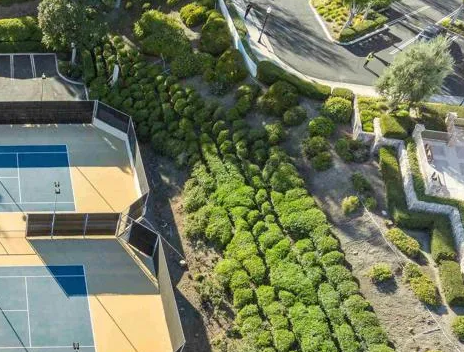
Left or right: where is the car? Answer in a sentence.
It is on the right.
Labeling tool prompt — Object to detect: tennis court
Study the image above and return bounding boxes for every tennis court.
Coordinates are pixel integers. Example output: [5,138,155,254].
[0,265,95,352]
[0,144,76,212]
